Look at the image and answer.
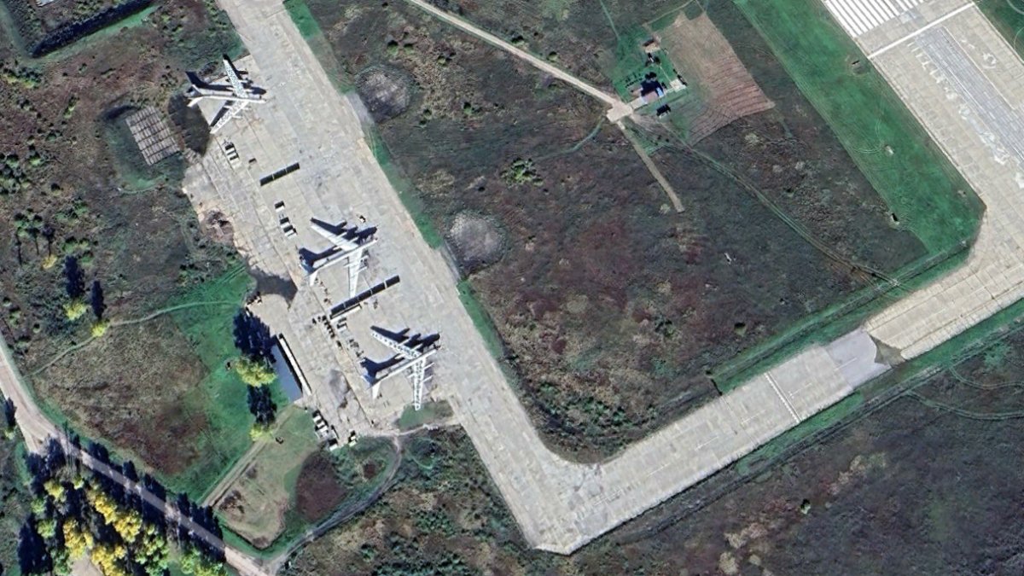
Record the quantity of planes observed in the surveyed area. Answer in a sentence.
Looking from above, you can make out 3 planes.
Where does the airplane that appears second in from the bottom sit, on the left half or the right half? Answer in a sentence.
The airplane that appears second in from the bottom appears in the left half of the scene.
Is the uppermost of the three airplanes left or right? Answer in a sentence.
The uppermost of the three airplanes sits on the left side.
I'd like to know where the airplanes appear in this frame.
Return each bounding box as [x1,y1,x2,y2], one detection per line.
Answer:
[184,58,267,136]
[300,224,377,298]
[360,337,439,409]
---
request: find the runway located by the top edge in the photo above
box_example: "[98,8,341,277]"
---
[826,0,1024,222]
